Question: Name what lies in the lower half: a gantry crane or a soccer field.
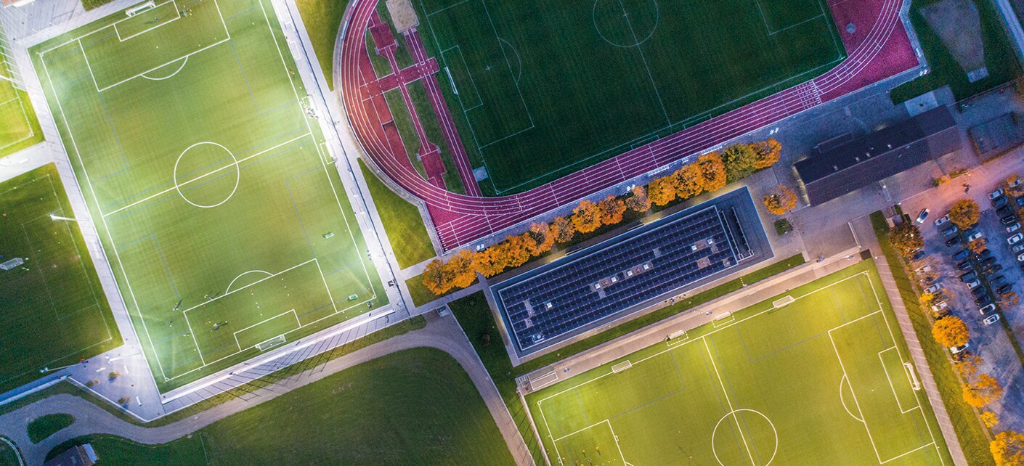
soccer field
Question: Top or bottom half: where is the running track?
top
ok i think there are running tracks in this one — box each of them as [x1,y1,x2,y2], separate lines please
[340,0,919,255]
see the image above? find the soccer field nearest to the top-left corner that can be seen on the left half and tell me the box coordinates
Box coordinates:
[0,45,45,157]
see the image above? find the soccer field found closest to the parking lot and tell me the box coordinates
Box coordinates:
[524,258,955,466]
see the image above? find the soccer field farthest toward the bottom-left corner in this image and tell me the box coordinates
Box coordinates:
[0,162,124,394]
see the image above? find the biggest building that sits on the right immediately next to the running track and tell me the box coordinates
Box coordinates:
[489,186,795,359]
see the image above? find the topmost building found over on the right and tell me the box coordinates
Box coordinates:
[792,104,963,205]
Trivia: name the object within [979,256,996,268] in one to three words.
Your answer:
vehicle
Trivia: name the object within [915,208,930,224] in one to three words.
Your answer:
car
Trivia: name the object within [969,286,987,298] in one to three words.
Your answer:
vehicle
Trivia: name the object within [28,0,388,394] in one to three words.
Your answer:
soccer field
